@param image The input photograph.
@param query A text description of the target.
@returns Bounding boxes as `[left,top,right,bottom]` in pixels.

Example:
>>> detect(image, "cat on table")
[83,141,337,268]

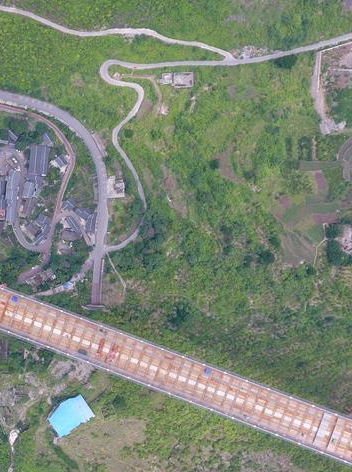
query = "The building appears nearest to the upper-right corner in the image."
[169,69,194,96]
